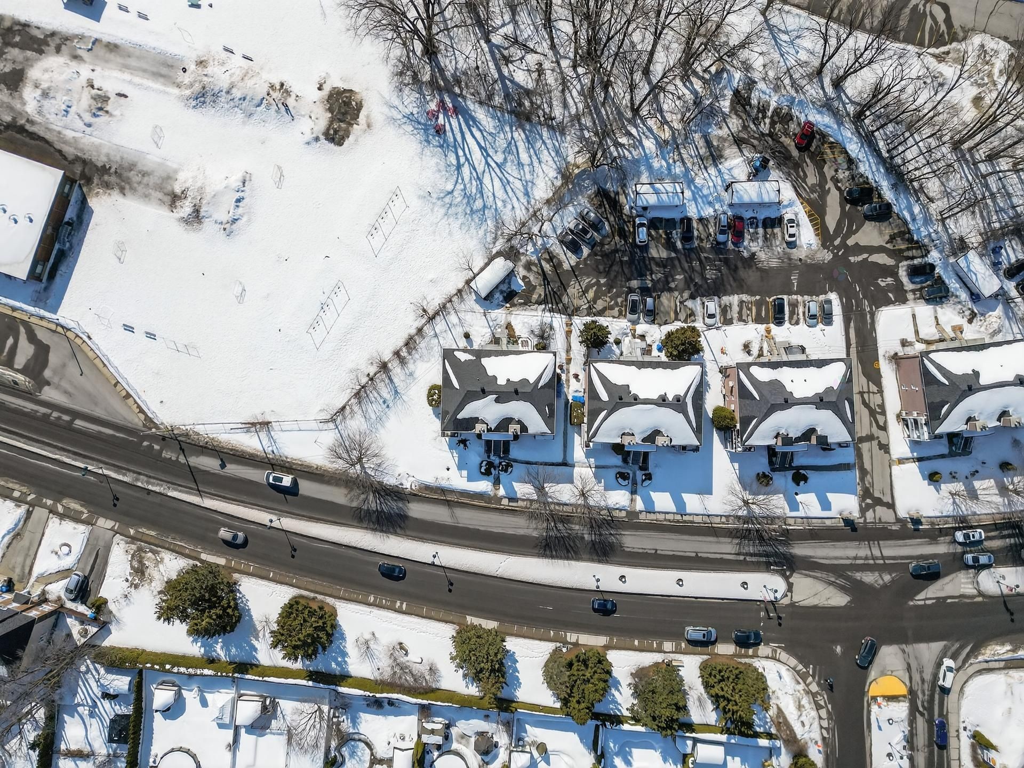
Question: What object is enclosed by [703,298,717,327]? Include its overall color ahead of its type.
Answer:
white car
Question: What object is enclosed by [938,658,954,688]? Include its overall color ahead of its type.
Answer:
white car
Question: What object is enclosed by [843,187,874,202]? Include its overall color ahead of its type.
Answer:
black car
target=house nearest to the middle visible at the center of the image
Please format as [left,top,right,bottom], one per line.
[441,349,557,455]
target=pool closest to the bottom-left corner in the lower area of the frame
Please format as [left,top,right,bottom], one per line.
[155,742,204,768]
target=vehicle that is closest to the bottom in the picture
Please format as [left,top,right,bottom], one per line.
[933,717,948,744]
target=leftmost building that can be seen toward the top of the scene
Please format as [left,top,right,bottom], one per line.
[0,148,83,285]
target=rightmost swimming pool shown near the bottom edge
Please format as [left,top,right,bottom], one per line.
[609,737,666,768]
